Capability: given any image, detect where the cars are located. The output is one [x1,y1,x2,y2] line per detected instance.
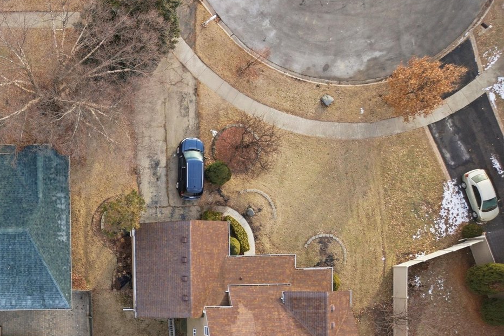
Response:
[177,138,209,199]
[463,166,503,225]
